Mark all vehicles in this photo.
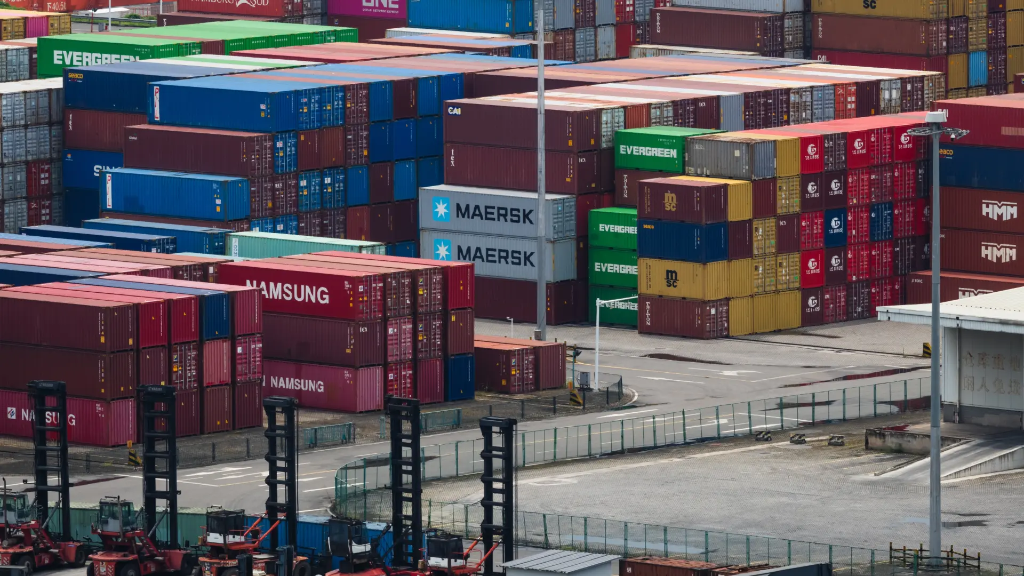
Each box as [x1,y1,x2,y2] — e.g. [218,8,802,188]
[0,379,94,567]
[185,396,316,576]
[405,417,519,576]
[78,384,196,576]
[308,396,421,576]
